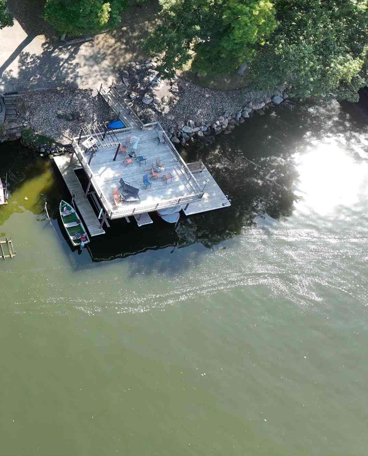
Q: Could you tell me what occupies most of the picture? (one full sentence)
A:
The largest share of the image is taken up by water.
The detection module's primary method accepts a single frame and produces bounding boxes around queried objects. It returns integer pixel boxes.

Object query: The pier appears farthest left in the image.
[53,152,106,241]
